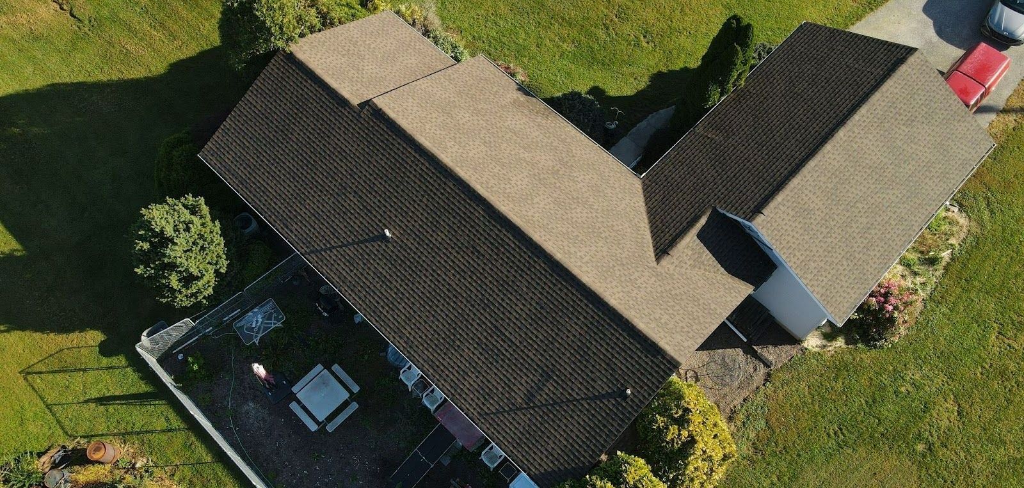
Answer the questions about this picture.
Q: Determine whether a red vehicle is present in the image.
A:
Yes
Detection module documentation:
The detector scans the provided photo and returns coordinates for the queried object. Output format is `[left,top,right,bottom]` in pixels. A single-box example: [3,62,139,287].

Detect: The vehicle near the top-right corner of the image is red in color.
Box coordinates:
[942,43,1010,118]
